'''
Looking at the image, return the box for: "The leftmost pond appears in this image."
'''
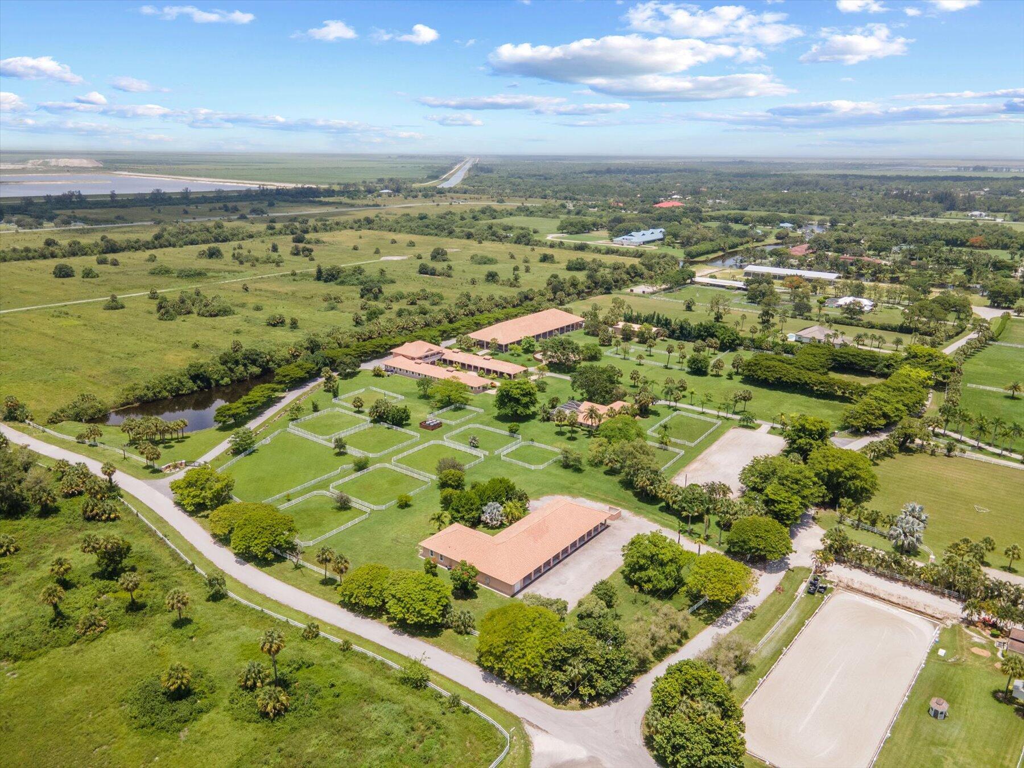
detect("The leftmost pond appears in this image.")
[90,368,278,432]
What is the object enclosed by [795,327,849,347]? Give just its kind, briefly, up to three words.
house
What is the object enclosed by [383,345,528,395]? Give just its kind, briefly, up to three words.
building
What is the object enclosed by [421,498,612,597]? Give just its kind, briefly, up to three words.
building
